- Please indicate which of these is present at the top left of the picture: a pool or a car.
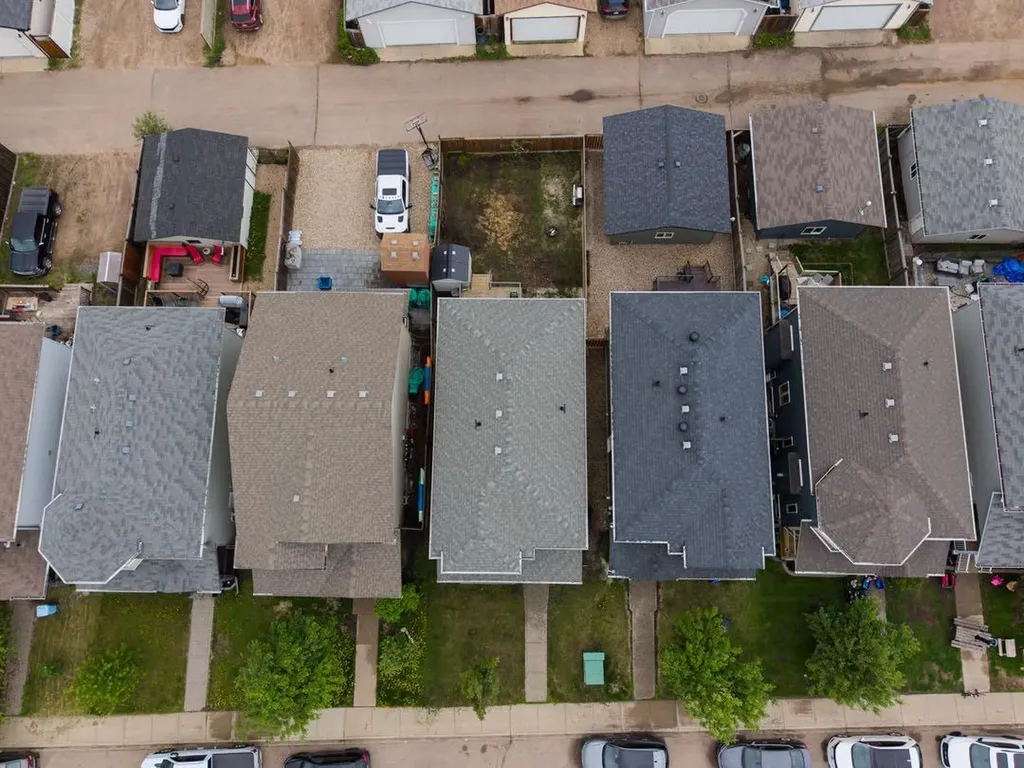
car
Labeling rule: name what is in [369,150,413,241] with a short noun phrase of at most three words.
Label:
truck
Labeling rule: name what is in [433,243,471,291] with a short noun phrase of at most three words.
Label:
shed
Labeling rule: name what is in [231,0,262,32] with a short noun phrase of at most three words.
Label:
car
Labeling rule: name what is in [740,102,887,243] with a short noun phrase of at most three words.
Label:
building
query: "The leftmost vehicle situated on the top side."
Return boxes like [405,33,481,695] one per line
[3,190,62,280]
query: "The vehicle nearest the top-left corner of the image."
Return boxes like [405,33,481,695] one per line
[148,0,185,33]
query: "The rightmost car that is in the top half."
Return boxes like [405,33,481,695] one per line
[600,0,628,20]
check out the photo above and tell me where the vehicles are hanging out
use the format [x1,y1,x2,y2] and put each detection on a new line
[285,748,370,768]
[148,0,185,33]
[583,734,666,768]
[715,737,807,768]
[369,150,413,241]
[939,730,1024,768]
[825,731,918,768]
[231,0,262,32]
[600,0,628,20]
[0,747,46,768]
[3,190,62,280]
